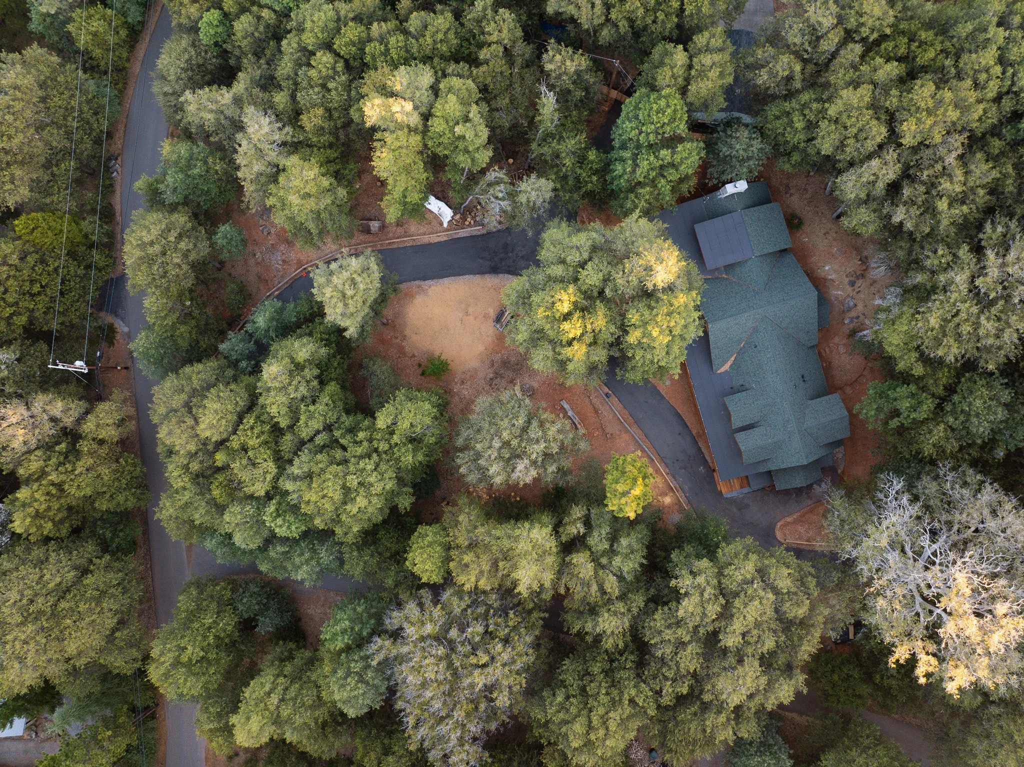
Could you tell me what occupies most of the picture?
trees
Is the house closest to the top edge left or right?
right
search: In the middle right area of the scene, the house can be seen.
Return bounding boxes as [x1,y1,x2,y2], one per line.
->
[647,181,849,492]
